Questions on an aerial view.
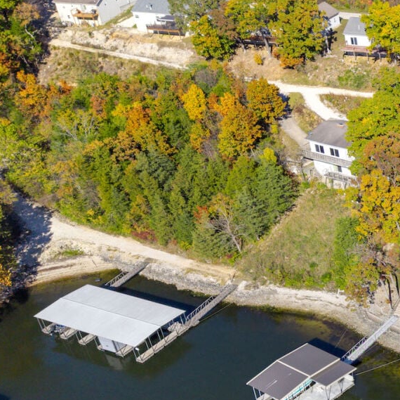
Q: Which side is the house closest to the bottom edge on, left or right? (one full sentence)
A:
It is on the right.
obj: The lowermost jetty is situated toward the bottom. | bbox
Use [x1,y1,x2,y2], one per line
[246,343,356,400]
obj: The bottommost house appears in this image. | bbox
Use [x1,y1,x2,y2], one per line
[296,126,383,191]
